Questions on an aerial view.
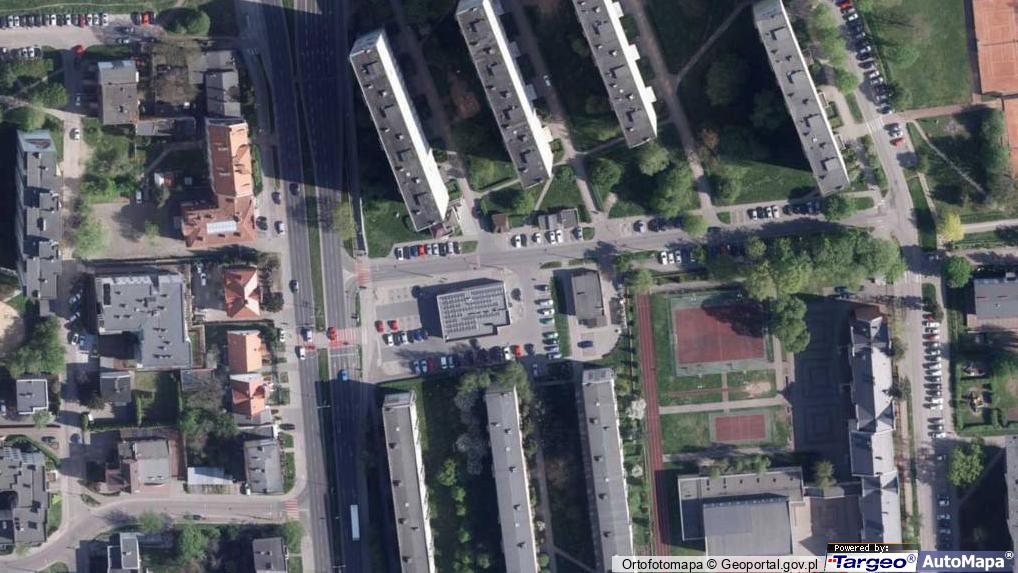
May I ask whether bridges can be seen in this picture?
No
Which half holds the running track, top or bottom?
bottom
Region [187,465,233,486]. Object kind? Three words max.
shed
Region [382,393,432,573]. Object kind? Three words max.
building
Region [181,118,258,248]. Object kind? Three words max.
house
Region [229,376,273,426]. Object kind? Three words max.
house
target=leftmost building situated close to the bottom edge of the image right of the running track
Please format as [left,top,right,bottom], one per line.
[680,464,803,573]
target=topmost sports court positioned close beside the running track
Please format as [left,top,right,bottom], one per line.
[670,290,773,376]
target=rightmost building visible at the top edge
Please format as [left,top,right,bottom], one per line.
[754,0,848,196]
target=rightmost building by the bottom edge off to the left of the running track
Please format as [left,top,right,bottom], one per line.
[582,368,638,573]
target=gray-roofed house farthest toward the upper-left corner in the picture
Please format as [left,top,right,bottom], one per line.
[97,60,140,125]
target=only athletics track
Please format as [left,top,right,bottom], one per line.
[636,293,670,573]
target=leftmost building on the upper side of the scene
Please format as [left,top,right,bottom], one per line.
[19,139,71,316]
